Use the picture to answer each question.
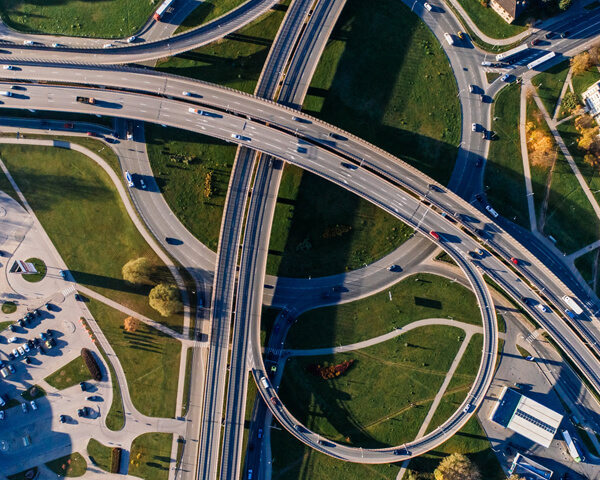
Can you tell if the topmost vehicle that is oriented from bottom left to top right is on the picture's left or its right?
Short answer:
left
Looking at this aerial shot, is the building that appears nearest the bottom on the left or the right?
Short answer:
right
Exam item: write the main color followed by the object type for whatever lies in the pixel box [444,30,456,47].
white vehicle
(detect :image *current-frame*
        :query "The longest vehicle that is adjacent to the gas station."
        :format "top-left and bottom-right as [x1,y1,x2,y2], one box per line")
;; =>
[559,428,581,462]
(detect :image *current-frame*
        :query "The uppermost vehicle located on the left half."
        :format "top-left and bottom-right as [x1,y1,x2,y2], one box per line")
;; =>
[153,0,173,22]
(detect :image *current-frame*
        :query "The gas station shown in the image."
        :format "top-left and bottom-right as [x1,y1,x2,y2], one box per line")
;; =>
[486,383,562,448]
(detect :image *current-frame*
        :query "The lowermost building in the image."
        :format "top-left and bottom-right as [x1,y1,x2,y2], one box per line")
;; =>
[504,448,553,480]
